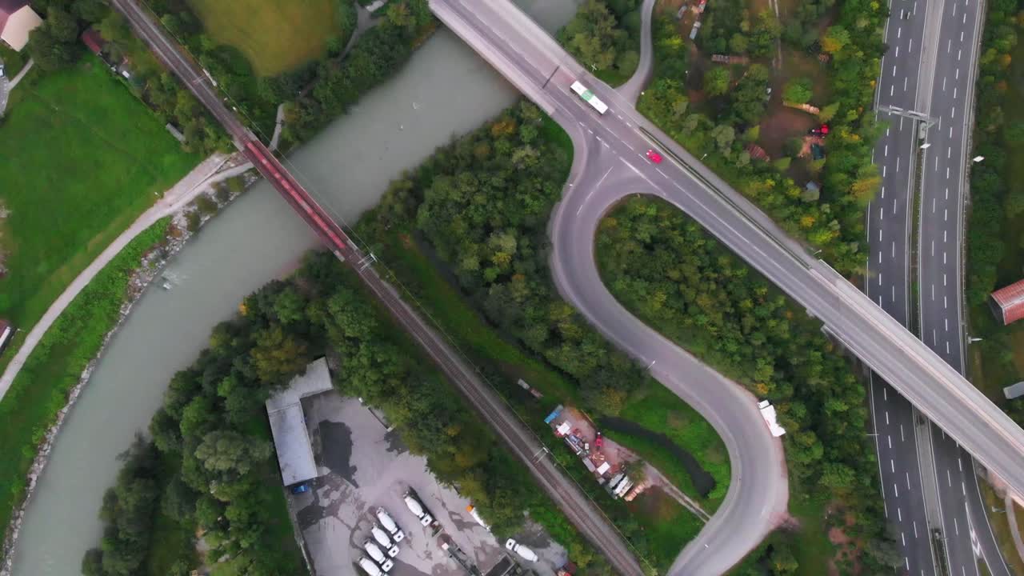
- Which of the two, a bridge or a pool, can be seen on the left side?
bridge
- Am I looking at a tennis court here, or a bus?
bus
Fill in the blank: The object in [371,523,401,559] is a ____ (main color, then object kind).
white truck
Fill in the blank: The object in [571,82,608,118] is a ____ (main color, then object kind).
white bus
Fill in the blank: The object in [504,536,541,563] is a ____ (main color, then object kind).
white truck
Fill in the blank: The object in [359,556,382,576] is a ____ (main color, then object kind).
white vehicle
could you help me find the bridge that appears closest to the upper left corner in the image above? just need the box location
[231,127,362,265]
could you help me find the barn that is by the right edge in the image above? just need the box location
[988,279,1024,328]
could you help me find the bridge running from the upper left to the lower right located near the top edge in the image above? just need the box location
[421,0,610,115]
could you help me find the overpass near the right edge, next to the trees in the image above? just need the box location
[782,259,1024,509]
